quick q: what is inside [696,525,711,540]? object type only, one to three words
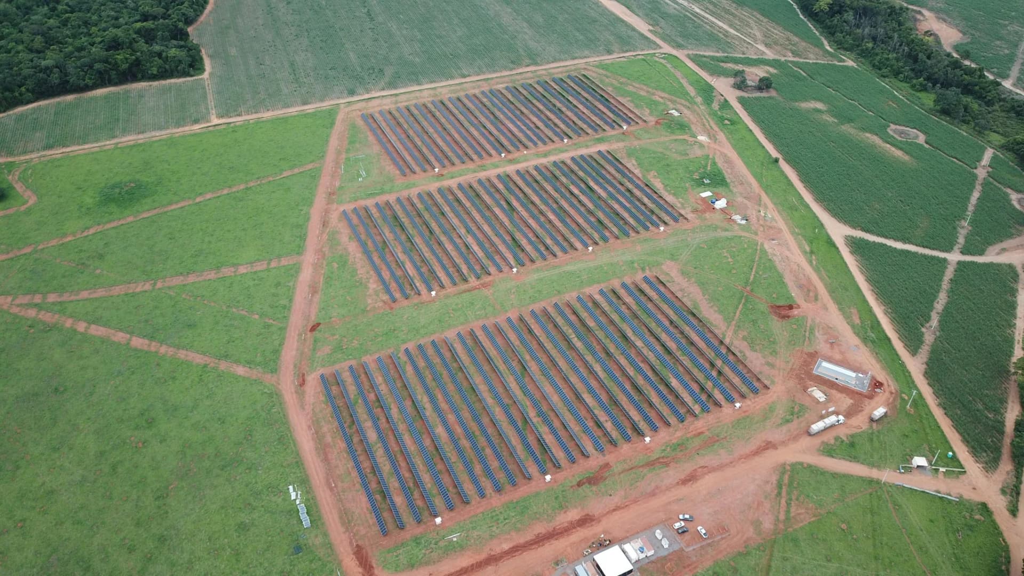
vehicle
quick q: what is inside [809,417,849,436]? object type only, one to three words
vehicle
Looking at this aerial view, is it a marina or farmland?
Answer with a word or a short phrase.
farmland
